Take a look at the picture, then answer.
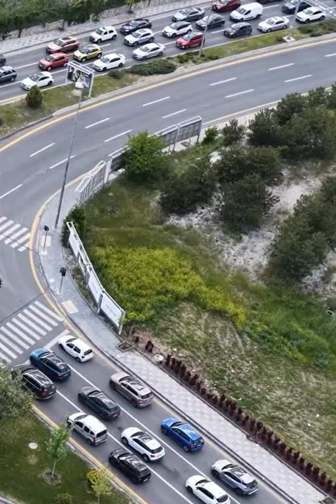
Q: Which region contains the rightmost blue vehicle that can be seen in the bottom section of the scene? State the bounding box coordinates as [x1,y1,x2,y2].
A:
[158,419,207,452]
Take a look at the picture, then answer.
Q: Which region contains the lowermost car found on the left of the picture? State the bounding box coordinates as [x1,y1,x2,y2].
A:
[105,450,154,483]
